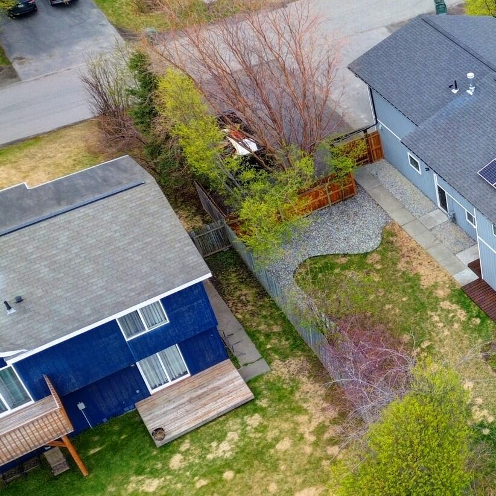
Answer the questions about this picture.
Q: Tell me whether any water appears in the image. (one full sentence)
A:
No, the scene doesn't show any water.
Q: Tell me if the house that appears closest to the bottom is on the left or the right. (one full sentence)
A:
The house that appears closest to the bottom is on the left side of the image.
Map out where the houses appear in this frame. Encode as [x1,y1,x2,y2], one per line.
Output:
[0,154,231,480]
[293,15,496,287]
